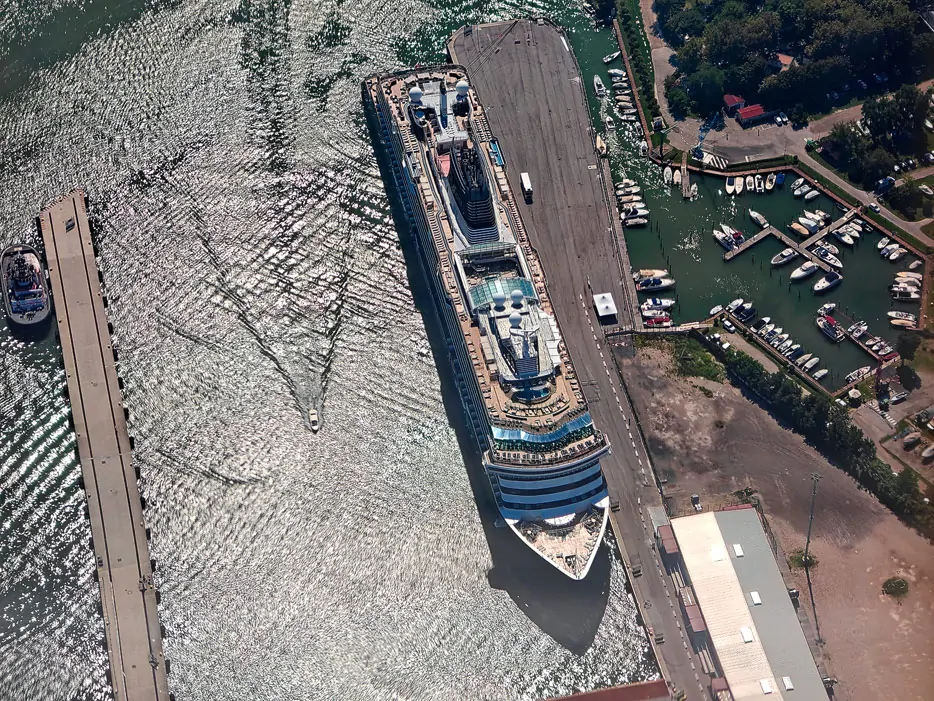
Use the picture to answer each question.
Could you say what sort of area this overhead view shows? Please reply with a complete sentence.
The area seen from above is a port.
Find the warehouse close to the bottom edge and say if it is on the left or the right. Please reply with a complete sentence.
The warehouse close to the bottom edge appears in the right half of the scene.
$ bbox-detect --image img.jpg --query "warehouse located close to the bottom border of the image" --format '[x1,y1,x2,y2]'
[671,504,830,701]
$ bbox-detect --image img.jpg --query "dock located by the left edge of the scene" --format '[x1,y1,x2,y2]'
[38,190,173,701]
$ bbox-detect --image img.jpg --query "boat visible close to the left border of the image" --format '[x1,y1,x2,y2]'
[0,243,51,325]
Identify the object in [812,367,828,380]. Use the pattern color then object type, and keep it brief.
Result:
white boat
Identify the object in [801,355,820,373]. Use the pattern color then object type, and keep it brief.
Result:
white boat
